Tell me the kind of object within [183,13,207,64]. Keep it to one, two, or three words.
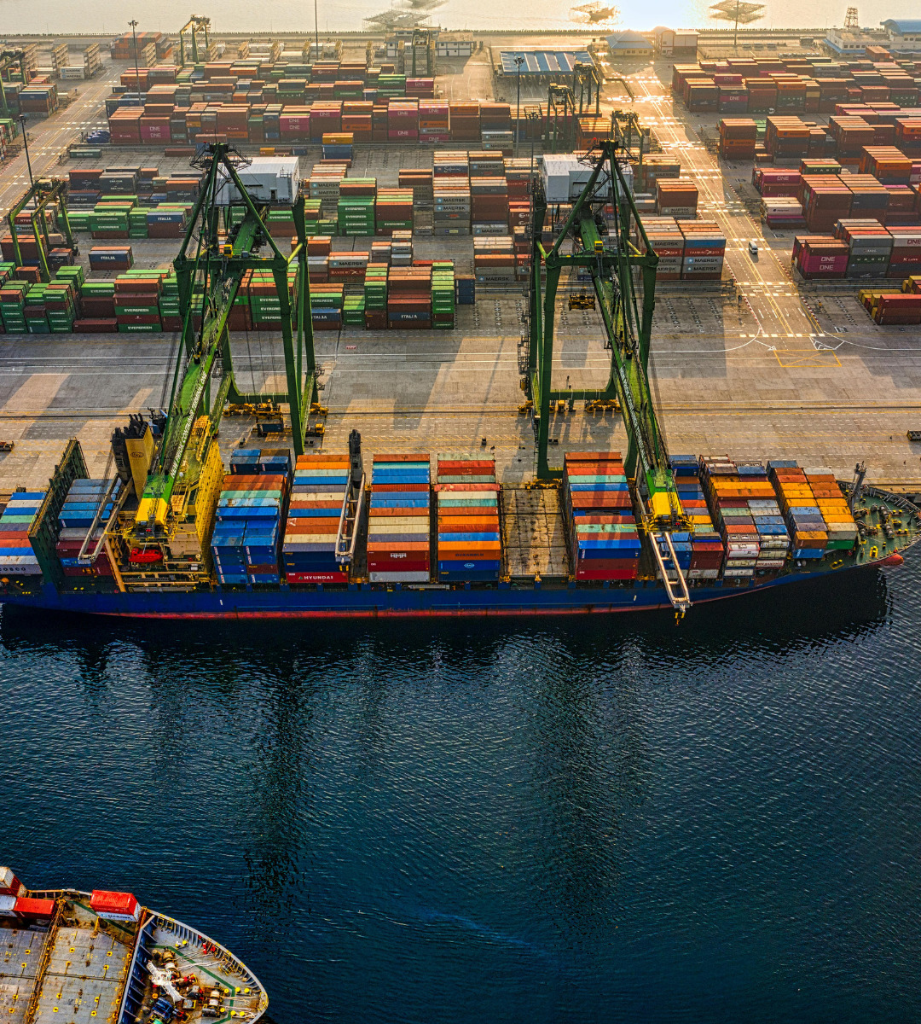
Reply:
container crane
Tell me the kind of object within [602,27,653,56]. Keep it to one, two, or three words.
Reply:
building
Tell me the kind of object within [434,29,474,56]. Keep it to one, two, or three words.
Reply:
building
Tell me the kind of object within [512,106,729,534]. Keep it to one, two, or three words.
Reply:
container crane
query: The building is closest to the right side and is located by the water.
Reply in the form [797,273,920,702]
[863,3,921,50]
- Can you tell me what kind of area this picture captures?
port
